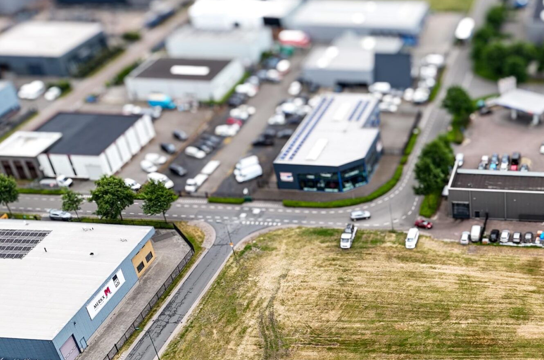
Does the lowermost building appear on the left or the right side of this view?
left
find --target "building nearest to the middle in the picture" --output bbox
[273,93,382,192]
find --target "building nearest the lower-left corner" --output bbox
[0,220,164,360]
